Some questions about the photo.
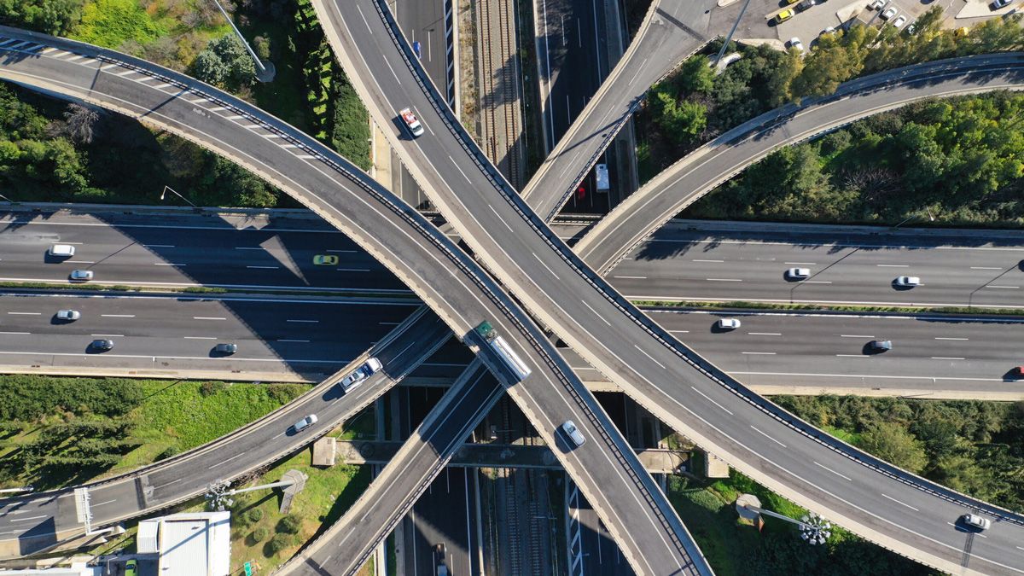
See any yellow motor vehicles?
Yes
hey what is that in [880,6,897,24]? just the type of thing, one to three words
car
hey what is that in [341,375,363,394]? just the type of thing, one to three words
car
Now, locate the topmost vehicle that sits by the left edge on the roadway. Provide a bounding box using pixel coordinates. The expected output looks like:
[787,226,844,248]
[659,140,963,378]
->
[49,244,75,256]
